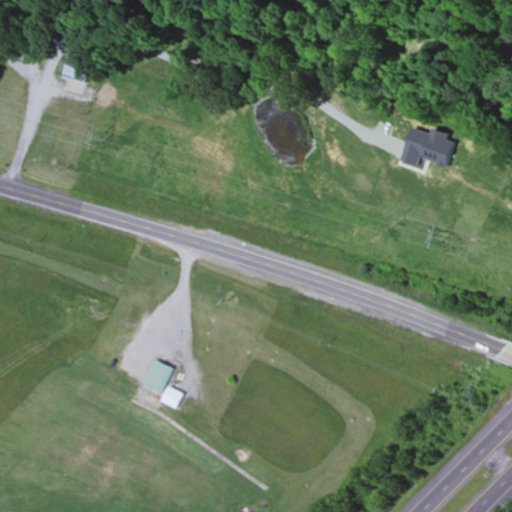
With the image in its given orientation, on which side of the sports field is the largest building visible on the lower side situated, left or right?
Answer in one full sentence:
In the image, the largest building visible on the lower side sits on the left side of the sports field.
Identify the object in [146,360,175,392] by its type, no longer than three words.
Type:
building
